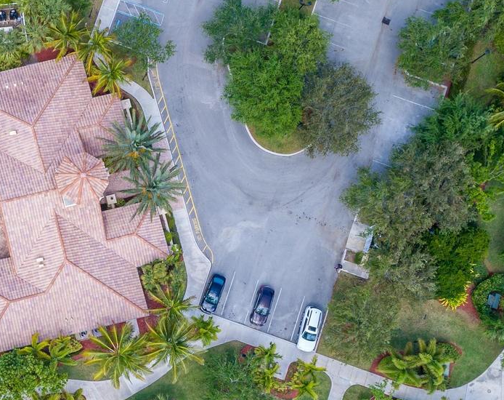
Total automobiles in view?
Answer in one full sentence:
There are 3 automobiles in the image.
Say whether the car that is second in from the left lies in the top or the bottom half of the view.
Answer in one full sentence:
The bottom half of the photo is where the car that is second in from the left is.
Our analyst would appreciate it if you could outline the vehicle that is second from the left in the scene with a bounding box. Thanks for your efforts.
[247,283,276,327]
